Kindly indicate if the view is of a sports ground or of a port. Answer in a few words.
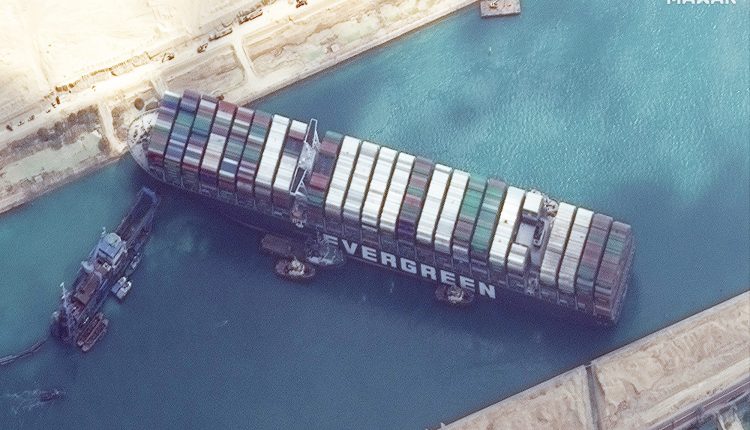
port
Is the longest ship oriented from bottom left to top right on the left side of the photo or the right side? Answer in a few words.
left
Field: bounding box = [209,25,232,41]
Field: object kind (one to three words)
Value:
vehicle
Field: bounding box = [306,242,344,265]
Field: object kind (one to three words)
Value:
boat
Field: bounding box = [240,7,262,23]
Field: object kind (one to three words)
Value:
vehicle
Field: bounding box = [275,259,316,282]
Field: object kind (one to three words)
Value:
boat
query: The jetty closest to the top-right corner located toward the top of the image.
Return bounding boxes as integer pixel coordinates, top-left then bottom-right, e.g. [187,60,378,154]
[481,0,522,21]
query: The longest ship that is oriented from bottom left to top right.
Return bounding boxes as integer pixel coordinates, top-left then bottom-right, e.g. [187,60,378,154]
[46,180,158,338]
